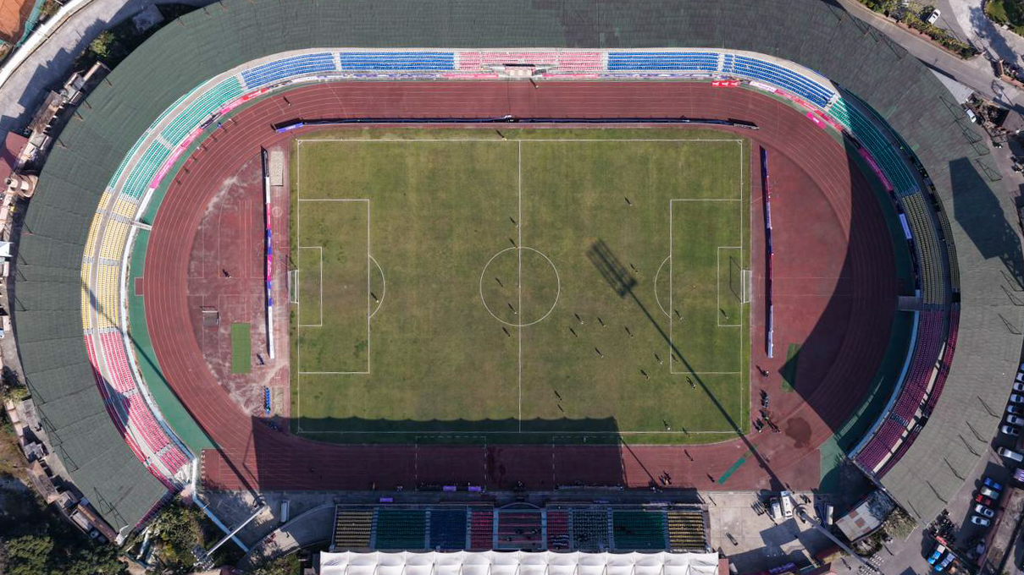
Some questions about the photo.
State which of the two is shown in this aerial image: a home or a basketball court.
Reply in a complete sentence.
Visible in the photo is a home.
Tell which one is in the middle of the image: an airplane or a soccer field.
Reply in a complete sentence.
There is a soccer field in the middle of the image.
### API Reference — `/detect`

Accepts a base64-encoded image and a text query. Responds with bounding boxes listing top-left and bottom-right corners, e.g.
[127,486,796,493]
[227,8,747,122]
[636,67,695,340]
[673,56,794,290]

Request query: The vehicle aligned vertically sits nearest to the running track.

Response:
[780,491,795,521]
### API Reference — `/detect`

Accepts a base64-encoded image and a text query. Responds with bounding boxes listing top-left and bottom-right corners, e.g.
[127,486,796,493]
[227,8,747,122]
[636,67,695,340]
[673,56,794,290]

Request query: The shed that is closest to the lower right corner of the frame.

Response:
[835,488,890,542]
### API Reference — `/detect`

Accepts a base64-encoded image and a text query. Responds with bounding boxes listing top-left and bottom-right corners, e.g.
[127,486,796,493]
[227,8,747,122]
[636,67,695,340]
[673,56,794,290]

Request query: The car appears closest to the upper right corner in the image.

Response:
[926,7,941,25]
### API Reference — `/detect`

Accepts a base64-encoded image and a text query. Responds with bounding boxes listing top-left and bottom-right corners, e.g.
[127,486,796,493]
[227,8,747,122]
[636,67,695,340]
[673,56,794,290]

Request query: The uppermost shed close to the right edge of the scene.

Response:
[932,71,975,103]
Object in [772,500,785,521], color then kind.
white vehicle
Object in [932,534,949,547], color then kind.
red vehicle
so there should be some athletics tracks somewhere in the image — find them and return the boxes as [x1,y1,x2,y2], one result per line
[135,80,896,492]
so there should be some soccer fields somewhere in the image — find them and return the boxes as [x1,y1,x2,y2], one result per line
[291,128,751,444]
